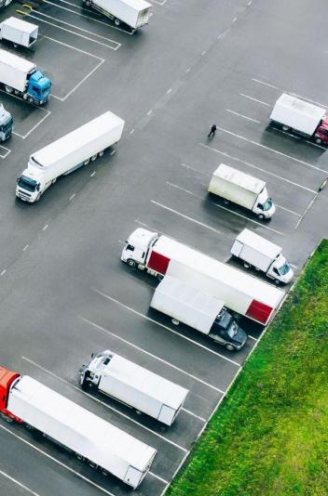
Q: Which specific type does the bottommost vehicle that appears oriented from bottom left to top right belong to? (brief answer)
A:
truck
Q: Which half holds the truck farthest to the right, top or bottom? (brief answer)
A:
top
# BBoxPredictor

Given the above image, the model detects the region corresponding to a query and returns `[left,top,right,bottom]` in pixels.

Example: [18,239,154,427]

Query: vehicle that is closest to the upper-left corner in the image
[0,16,39,51]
